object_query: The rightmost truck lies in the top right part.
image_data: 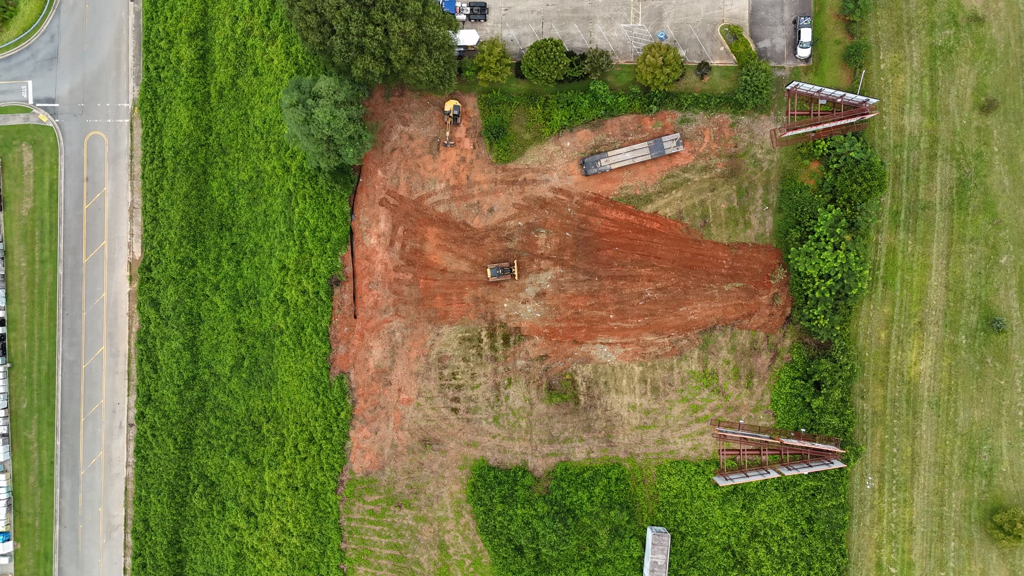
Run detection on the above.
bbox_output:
[793,16,816,60]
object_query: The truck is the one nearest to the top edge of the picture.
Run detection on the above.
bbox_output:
[429,0,489,22]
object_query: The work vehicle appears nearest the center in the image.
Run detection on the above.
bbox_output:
[487,260,518,282]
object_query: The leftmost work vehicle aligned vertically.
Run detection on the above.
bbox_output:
[445,97,462,147]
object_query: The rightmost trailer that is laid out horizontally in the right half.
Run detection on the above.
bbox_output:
[578,133,684,177]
